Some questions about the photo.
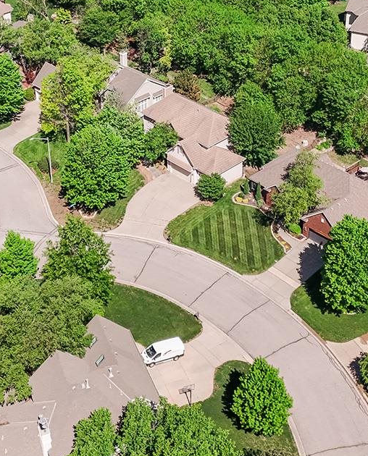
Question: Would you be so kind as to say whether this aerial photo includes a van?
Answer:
Yes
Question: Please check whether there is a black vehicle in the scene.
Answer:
No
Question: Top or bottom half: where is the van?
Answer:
bottom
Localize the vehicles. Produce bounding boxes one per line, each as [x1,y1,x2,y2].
[138,330,187,365]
